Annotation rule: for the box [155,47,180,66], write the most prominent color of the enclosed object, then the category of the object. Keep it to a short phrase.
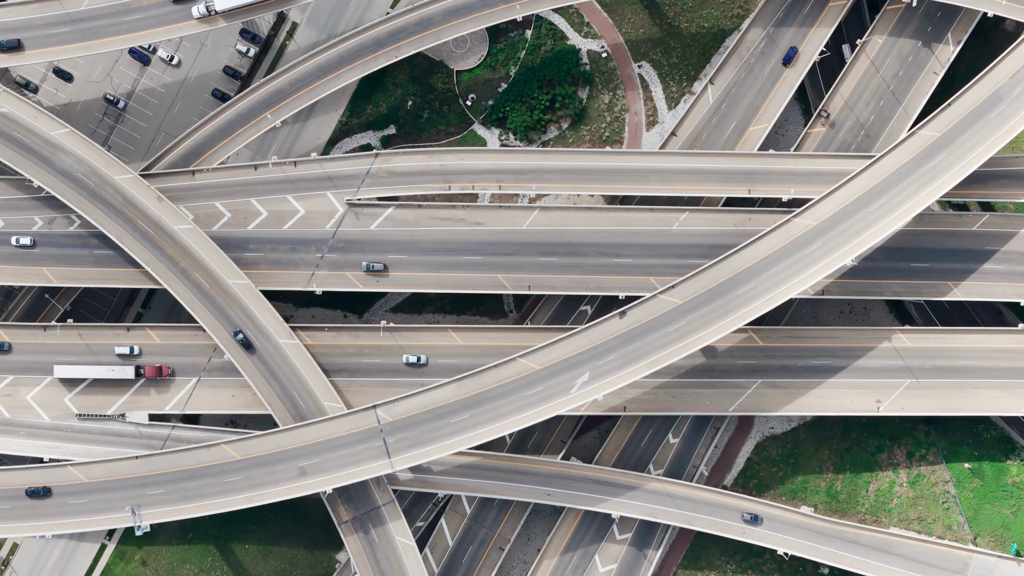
white car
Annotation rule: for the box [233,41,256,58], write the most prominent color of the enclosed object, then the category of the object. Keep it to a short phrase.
white car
